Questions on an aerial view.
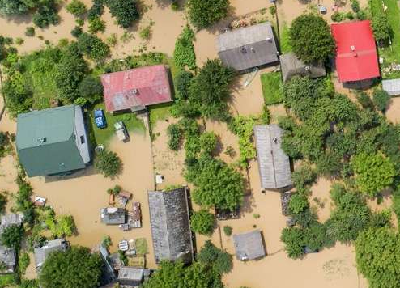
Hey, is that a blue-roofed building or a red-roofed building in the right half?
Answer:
red-roofed building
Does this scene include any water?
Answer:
Yes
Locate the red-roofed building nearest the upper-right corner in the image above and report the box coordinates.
[332,19,379,87]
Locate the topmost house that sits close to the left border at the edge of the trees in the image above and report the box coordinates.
[11,104,90,177]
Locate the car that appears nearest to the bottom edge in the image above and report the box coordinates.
[115,121,129,140]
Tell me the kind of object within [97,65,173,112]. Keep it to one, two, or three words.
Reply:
house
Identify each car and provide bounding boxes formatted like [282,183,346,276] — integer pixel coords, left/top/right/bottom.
[115,121,129,140]
[94,109,106,128]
